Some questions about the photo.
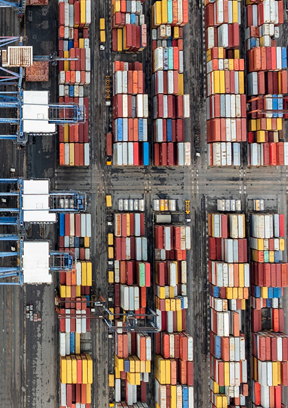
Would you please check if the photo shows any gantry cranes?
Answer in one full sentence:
Yes, the photo shows a gantry crane.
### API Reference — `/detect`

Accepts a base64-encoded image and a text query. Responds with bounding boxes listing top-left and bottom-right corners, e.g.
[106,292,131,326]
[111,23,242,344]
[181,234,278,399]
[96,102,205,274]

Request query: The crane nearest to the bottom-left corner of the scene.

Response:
[55,292,108,320]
